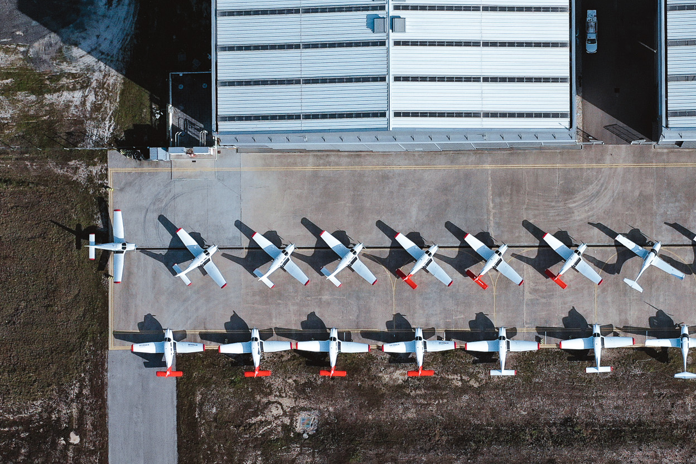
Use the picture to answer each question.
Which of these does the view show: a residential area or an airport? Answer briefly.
airport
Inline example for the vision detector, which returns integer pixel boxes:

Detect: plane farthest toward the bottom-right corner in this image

[646,325,696,378]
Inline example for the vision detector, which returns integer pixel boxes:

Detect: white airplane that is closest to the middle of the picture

[319,232,376,288]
